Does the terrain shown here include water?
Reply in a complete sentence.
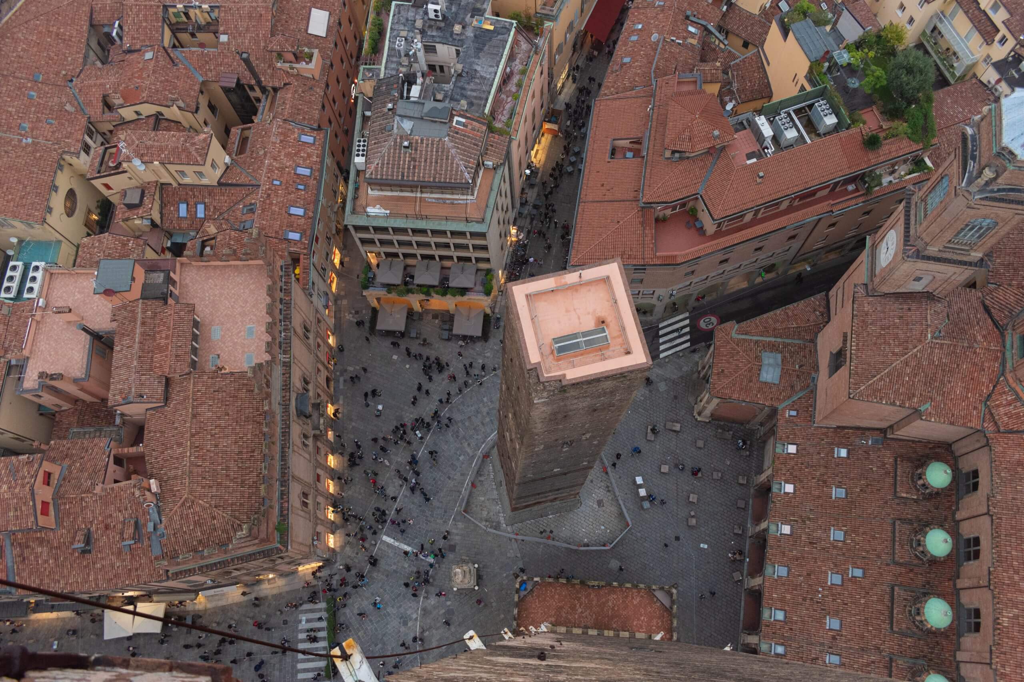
No, there is no water in the image.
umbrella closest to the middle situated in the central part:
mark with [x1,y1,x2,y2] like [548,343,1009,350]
[452,308,487,340]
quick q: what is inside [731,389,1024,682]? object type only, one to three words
church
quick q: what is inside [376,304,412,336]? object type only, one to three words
umbrella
